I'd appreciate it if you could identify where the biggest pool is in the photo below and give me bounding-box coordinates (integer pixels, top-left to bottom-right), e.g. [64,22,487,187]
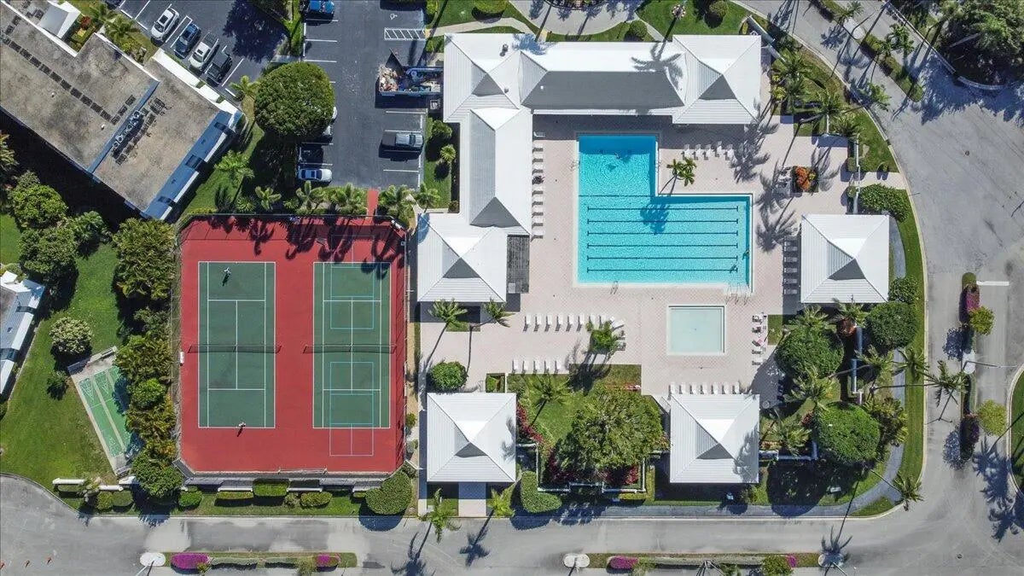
[573,132,755,295]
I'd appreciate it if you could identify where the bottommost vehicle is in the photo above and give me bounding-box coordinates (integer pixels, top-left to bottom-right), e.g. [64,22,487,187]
[298,167,333,183]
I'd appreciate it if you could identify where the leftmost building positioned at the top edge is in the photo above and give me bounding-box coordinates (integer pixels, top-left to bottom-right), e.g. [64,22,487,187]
[0,0,245,220]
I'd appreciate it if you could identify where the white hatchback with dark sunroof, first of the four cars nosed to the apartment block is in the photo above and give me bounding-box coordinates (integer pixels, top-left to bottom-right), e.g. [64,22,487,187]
[153,8,182,41]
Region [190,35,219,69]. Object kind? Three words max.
car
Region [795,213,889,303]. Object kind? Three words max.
building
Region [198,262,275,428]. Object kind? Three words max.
tennis court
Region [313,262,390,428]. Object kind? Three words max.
tennis court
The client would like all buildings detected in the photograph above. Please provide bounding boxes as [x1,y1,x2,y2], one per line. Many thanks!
[0,0,245,220]
[427,393,516,482]
[417,33,762,302]
[0,266,47,392]
[670,393,759,483]
[795,213,889,303]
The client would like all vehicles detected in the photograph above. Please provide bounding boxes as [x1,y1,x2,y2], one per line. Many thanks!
[317,124,331,138]
[298,167,333,183]
[301,0,335,15]
[174,24,203,57]
[205,49,236,86]
[381,133,424,150]
[190,35,219,69]
[153,8,182,41]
